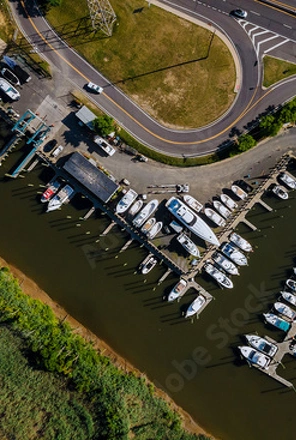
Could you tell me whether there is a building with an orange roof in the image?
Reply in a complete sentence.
No, I can see no building with an orange roof in this picture.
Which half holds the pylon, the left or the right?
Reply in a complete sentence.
The pylon is on the left side of the image.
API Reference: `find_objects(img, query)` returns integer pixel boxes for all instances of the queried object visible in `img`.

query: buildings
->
[63,150,120,203]
[75,105,94,128]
